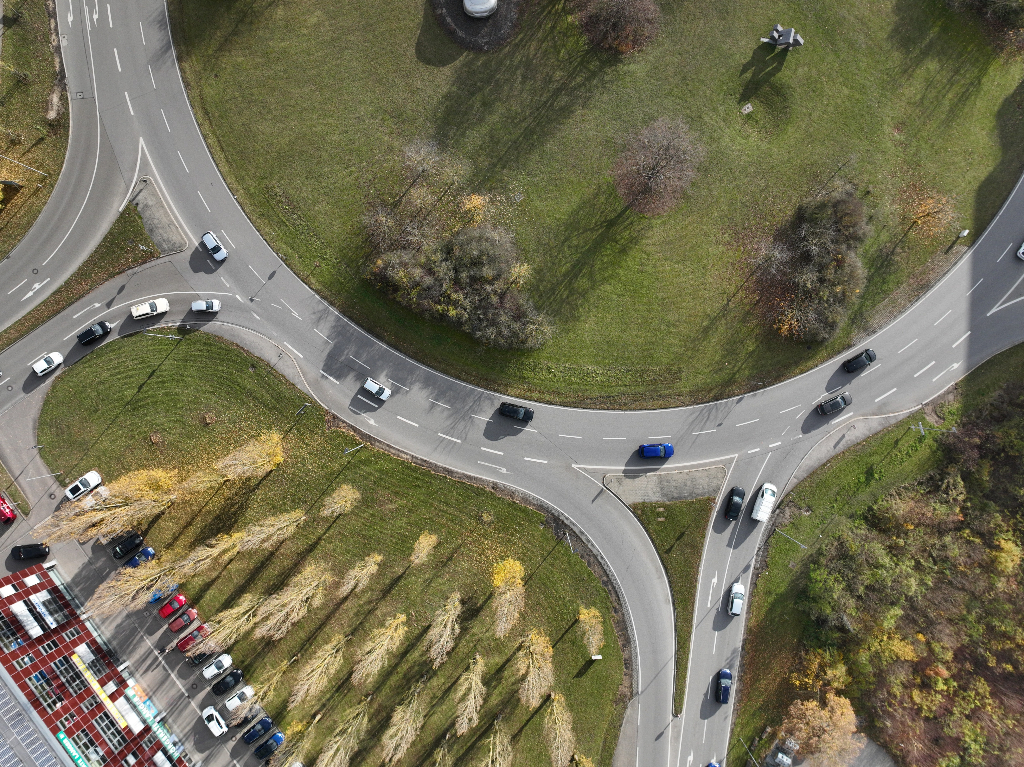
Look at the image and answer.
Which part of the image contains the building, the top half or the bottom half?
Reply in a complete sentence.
The building is in the bottom half of the image.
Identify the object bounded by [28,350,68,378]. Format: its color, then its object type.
white car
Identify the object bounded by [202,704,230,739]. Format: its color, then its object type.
white car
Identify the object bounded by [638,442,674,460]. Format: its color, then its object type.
blue car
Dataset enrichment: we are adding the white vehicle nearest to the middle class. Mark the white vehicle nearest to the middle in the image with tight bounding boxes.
[361,378,392,401]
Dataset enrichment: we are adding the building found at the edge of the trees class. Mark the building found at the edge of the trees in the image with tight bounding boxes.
[0,556,201,767]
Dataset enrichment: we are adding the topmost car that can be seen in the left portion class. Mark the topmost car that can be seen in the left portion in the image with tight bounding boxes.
[200,229,229,263]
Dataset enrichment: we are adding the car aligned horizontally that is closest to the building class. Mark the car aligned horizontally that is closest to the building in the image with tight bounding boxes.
[11,542,51,561]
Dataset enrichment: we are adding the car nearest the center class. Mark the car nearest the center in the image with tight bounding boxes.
[499,403,533,420]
